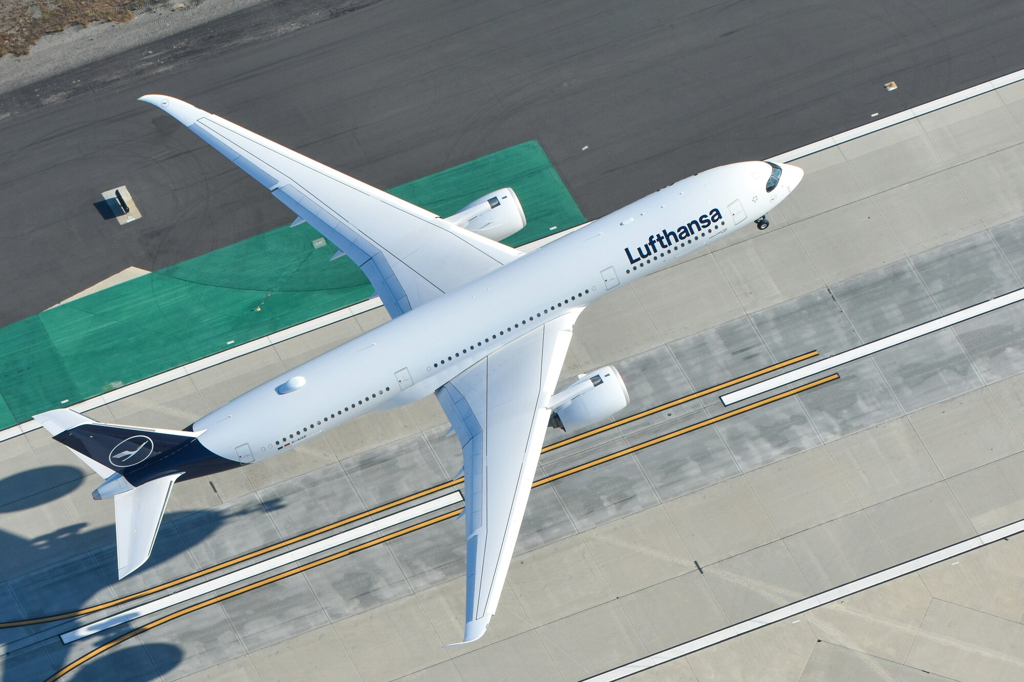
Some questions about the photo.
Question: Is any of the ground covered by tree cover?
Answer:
No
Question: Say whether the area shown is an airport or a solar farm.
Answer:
airport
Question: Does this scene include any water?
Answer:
No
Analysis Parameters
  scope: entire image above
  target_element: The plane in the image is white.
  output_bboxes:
[31,93,804,650]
